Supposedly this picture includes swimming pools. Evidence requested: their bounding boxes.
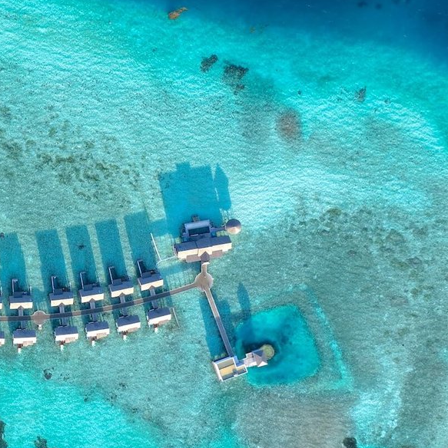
[13,279,22,291]
[80,272,90,286]
[136,259,147,273]
[108,267,119,281]
[52,275,62,289]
